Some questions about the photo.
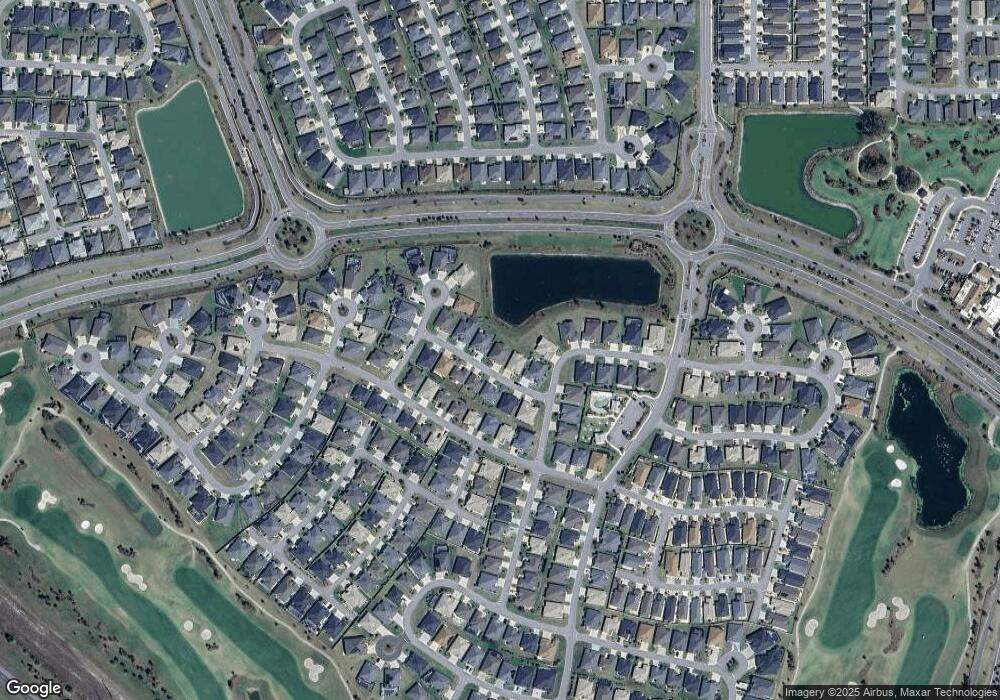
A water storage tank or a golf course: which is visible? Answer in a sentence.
There is a golf course in the scene.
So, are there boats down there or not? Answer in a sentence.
No, no boat can be seen from above.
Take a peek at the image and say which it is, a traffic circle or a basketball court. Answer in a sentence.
I can see a traffic circle in this picture.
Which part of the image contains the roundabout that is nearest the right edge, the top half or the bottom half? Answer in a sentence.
The roundabout that is nearest the right edge sits in the top half of the picture.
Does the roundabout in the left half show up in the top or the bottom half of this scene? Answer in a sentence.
It is in the top half that the roundabout in the left half appears.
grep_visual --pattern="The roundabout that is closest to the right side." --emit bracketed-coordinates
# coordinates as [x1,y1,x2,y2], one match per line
[664,200,726,262]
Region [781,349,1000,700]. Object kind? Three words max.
golf course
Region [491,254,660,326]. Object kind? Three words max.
pond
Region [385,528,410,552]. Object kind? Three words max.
house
